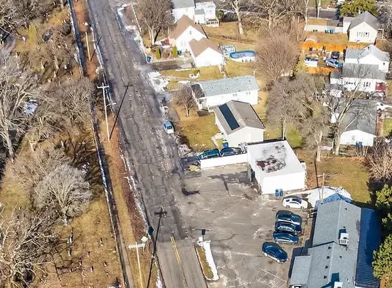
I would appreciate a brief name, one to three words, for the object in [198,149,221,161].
vehicle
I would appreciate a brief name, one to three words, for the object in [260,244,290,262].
car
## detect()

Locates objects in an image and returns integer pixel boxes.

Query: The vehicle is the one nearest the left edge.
[163,119,175,133]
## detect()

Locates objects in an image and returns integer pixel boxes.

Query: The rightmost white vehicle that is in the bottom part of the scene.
[282,197,309,209]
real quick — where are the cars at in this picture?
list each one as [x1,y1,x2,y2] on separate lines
[366,90,388,100]
[198,149,221,161]
[323,59,342,69]
[271,231,300,245]
[282,197,309,209]
[331,50,340,61]
[260,244,290,262]
[372,99,392,111]
[219,148,243,158]
[163,119,175,133]
[274,209,302,225]
[274,219,302,235]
